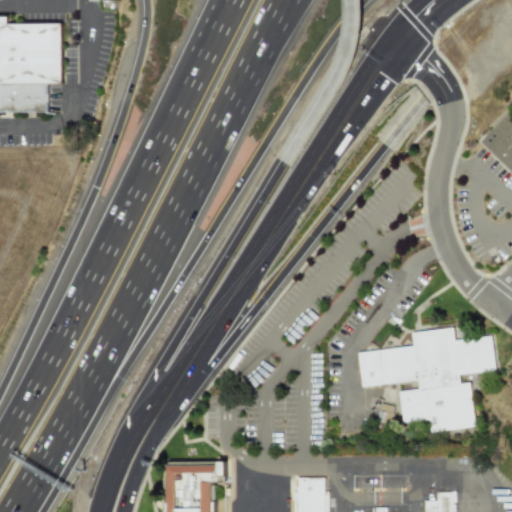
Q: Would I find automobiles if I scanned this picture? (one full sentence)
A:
No, I find no automobile anywhere in the image.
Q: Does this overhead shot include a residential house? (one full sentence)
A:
No, this view has no residential house in it.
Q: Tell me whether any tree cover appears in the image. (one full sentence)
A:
No, there is no tree cover in the image.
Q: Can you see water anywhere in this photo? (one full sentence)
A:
No, the scene doesn't show any water.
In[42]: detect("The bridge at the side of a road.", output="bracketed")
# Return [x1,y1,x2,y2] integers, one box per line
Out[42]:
[275,0,361,164]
